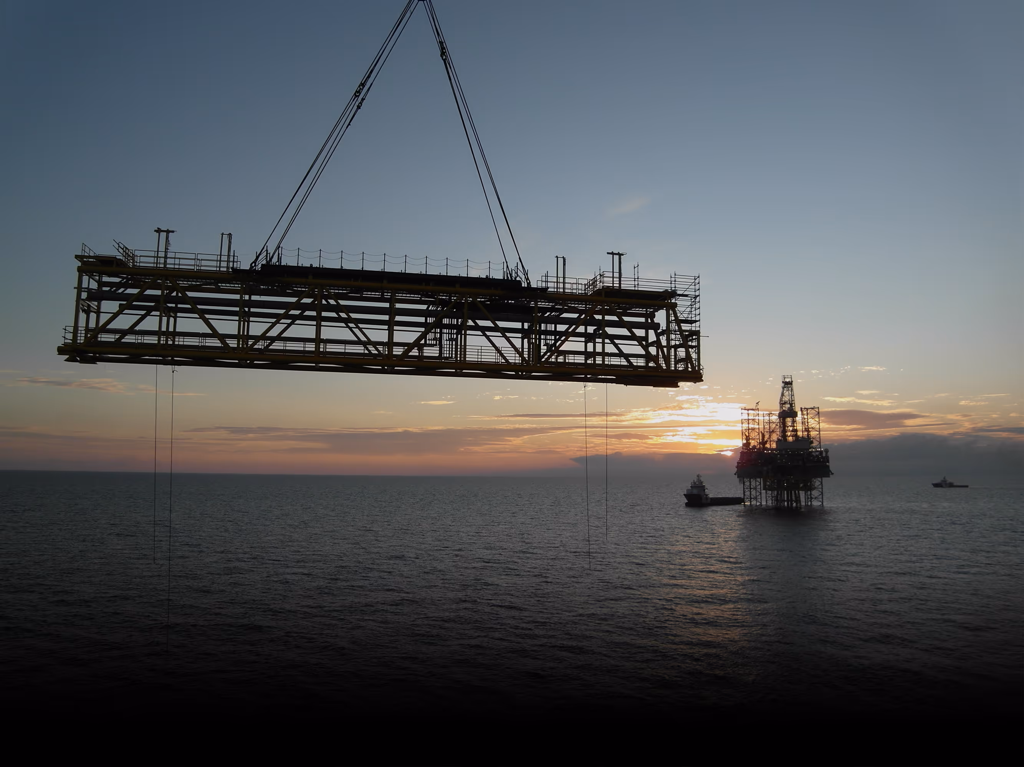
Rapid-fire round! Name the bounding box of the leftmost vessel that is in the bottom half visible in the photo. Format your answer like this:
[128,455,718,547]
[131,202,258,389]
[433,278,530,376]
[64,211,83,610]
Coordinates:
[684,470,747,507]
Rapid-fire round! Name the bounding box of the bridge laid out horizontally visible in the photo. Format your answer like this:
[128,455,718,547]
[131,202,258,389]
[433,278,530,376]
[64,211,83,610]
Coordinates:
[56,227,706,388]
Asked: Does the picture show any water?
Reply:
Yes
